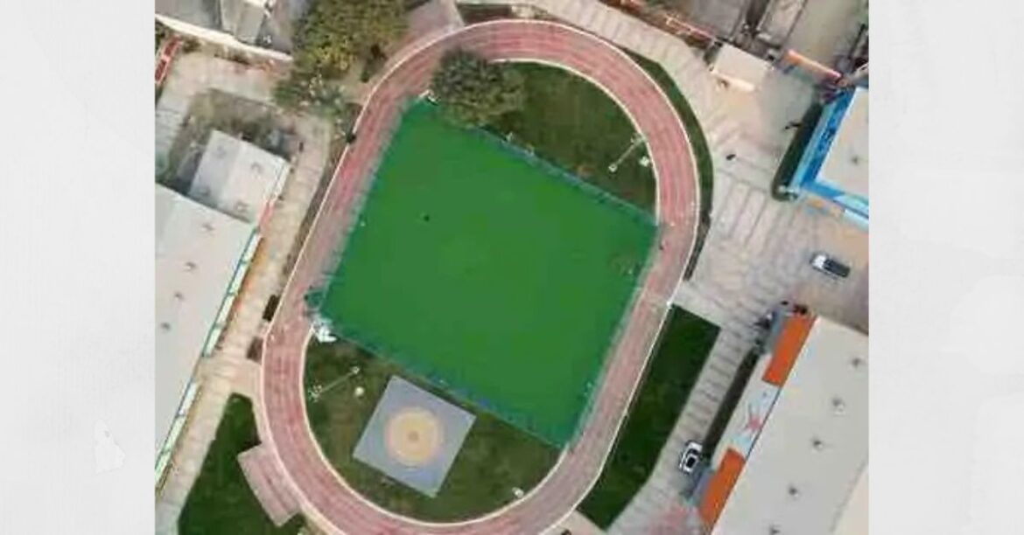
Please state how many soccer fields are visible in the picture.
one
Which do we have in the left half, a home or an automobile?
home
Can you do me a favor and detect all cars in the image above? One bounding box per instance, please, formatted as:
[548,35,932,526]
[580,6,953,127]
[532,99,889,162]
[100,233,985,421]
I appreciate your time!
[679,441,704,476]
[813,254,854,278]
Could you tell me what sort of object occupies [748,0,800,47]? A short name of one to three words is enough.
house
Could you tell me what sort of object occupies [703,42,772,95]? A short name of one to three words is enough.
building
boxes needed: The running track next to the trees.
[261,20,700,535]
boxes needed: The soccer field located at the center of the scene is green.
[325,98,654,440]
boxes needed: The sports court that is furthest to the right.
[353,376,476,498]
